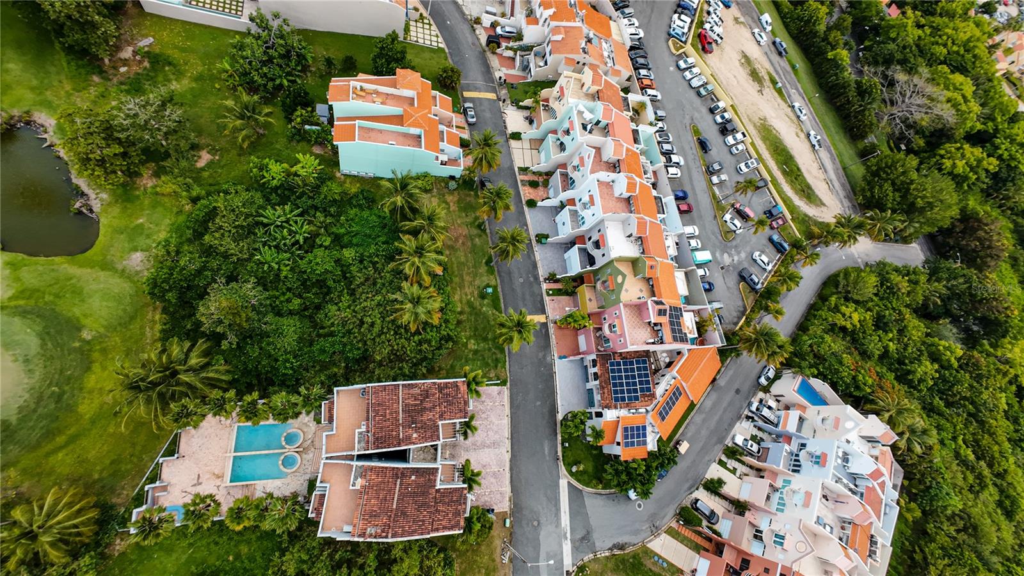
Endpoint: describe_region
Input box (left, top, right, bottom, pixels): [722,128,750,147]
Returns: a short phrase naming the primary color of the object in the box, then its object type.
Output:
white vehicle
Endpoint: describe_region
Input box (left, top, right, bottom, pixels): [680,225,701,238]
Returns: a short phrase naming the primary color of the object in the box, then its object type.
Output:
white vehicle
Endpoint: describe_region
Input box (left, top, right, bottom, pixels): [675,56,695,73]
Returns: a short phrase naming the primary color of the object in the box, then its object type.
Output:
white car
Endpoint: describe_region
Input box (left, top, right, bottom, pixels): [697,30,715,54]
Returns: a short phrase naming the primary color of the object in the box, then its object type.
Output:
red vehicle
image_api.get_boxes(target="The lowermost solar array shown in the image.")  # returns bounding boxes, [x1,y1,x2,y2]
[624,426,648,449]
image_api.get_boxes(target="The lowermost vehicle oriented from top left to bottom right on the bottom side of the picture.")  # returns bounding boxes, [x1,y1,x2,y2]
[689,495,718,527]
